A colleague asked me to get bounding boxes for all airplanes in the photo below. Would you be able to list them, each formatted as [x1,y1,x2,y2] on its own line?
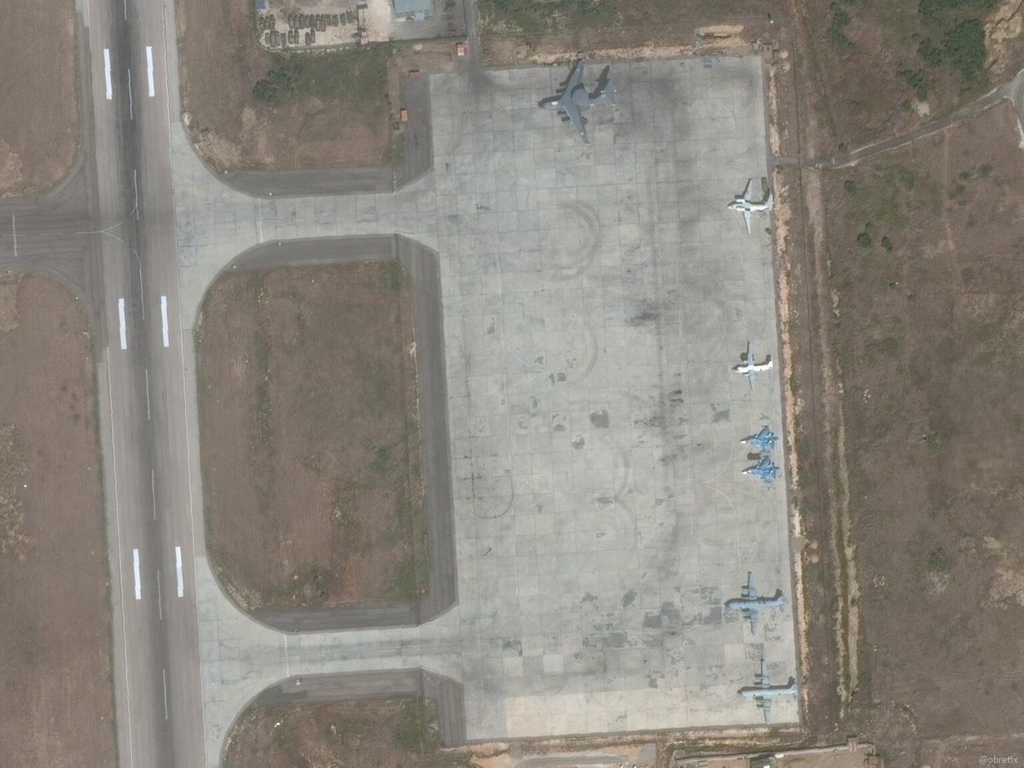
[724,572,784,636]
[741,428,779,453]
[540,60,616,144]
[737,659,797,724]
[733,344,773,394]
[727,179,772,232]
[742,459,780,484]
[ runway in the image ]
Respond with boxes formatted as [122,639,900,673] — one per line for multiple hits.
[88,0,206,768]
